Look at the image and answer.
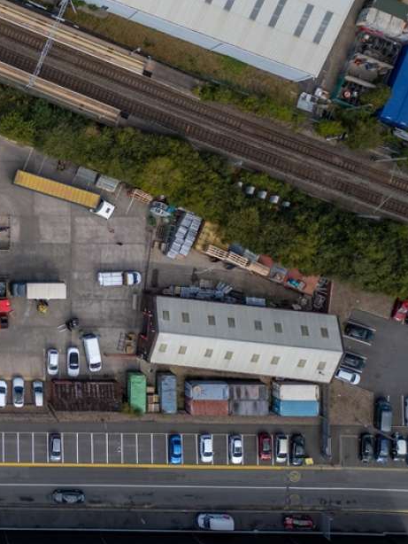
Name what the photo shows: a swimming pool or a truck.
truck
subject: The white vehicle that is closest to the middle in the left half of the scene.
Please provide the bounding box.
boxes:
[102,271,135,285]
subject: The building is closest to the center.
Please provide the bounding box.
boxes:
[140,292,346,383]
